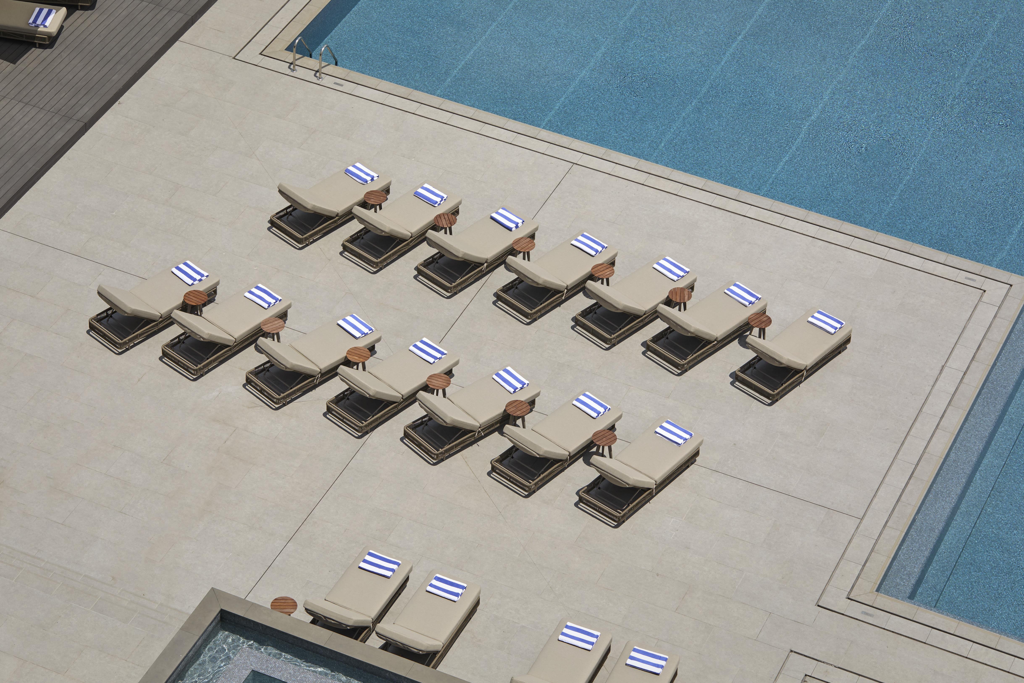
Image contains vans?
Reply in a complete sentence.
No, this view has no van in it.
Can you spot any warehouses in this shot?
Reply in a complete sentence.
No, I can see no warehouse in this picture.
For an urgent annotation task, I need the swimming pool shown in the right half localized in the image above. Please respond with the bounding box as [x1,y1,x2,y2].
[285,0,1024,643]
